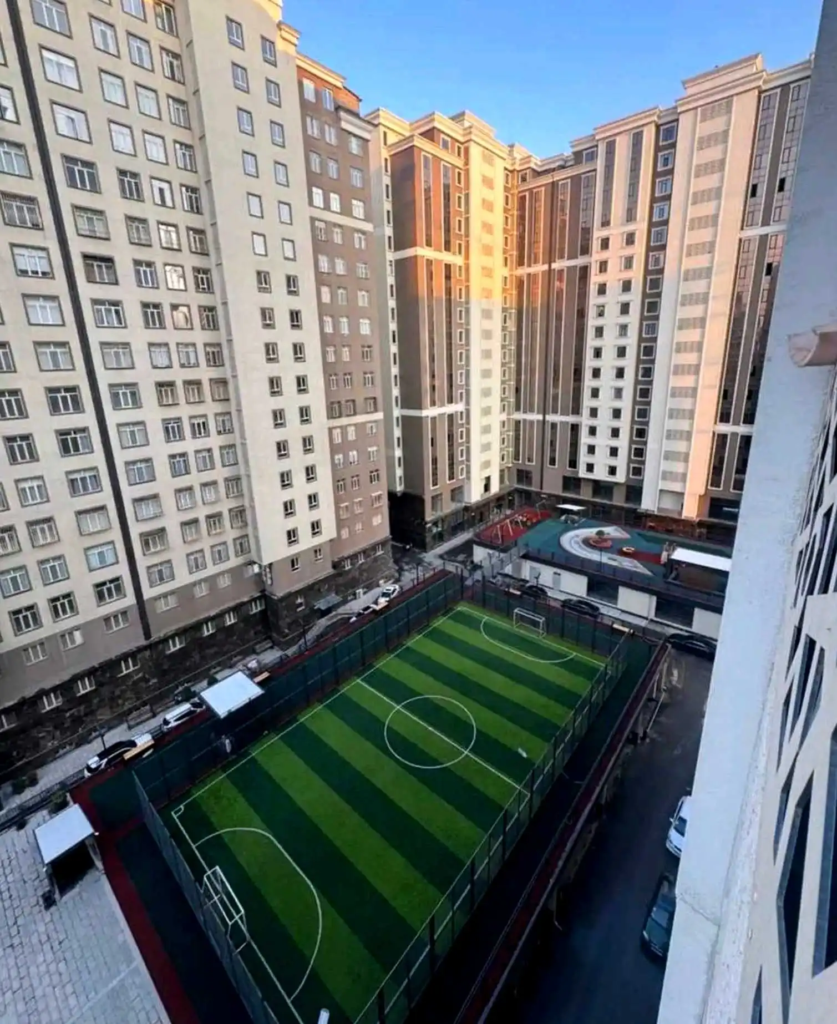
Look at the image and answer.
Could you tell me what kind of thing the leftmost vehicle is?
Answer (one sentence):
The leftmost vehicle in the image is a car.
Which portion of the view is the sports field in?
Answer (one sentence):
The sports field sits in the bottom section of the image.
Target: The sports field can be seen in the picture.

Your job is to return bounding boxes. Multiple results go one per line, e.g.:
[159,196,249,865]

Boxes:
[158,599,625,1024]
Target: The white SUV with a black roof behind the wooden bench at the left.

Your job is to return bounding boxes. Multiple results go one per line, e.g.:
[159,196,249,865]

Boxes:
[79,718,151,775]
